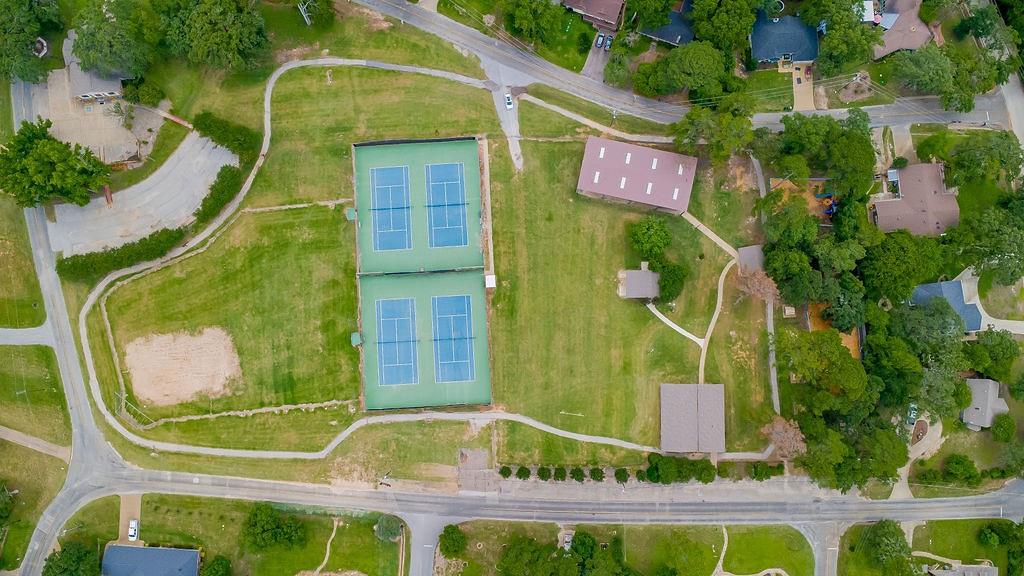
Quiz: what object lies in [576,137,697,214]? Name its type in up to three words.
building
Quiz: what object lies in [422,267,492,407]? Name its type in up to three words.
tennis court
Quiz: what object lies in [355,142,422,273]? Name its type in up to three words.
tennis court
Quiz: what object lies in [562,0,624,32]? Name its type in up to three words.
house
